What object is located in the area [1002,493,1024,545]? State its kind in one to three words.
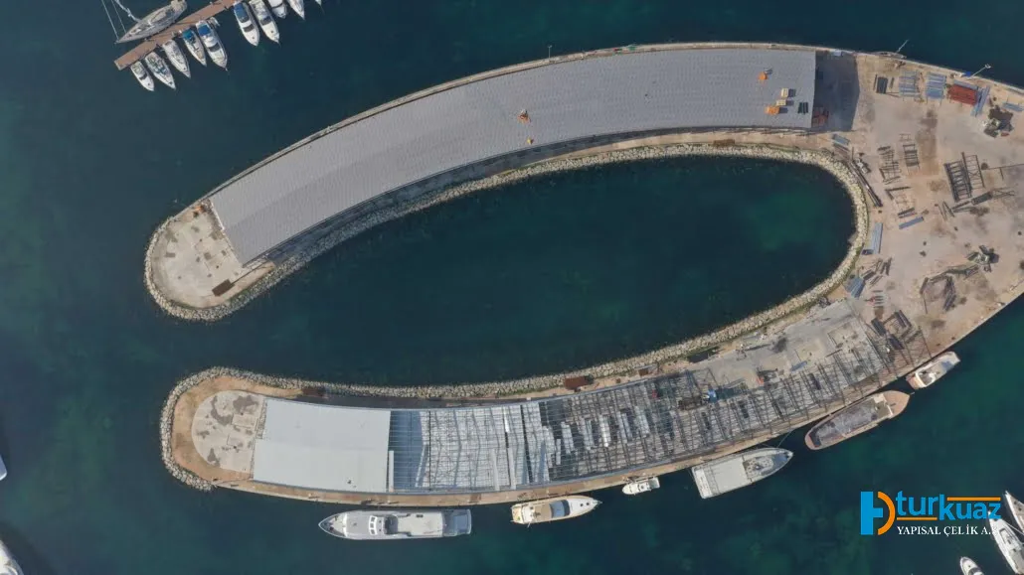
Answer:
boat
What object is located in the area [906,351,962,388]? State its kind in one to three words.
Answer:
boat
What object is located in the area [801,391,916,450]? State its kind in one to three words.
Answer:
vessel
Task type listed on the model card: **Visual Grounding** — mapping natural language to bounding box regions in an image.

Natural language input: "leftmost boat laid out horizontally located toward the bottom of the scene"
[319,508,472,540]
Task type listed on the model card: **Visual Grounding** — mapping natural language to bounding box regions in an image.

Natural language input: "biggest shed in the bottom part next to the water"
[253,336,882,496]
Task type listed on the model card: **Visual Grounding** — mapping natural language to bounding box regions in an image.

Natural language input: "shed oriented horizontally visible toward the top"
[209,45,815,269]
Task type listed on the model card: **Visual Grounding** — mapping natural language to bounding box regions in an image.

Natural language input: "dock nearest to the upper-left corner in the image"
[114,0,250,71]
